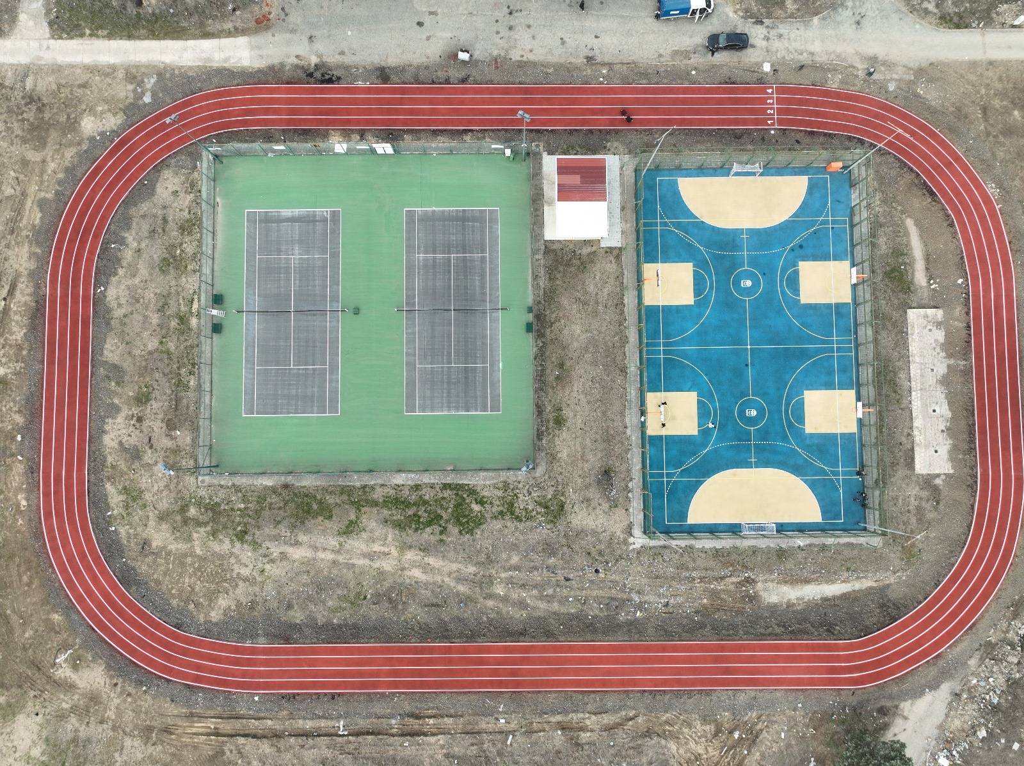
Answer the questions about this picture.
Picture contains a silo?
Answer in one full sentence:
No, the picture doesn't show any silo.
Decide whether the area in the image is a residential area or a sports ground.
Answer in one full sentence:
This looks like a sports ground.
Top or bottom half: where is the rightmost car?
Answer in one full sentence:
It is in the top half that the rightmost car appears.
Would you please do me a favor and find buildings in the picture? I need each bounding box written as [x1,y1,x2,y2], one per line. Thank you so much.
[555,156,609,236]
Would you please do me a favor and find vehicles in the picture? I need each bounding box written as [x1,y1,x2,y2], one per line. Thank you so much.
[655,0,714,21]
[708,28,750,49]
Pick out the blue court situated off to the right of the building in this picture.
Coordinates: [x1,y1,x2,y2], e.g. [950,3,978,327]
[636,167,866,534]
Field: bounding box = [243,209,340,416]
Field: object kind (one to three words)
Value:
tennis court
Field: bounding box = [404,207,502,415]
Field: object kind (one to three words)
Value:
tennis court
